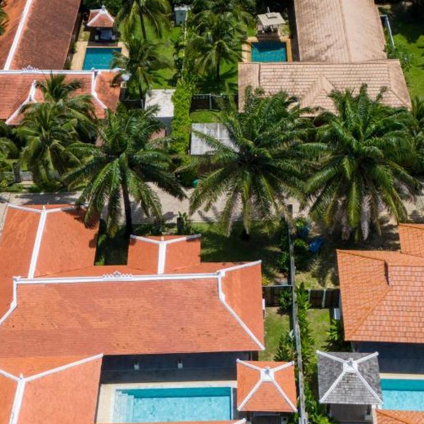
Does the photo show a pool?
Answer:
Yes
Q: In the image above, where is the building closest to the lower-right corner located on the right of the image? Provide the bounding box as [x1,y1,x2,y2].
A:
[314,348,385,423]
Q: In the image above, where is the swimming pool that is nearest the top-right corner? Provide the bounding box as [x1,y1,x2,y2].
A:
[247,41,291,61]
